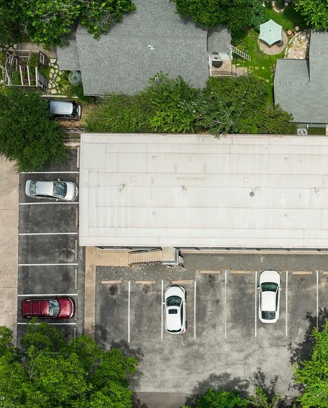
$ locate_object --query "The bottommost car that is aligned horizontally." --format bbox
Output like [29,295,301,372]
[20,296,77,321]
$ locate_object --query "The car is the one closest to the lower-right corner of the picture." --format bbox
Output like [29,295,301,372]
[256,270,282,324]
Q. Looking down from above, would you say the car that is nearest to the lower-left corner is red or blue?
red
